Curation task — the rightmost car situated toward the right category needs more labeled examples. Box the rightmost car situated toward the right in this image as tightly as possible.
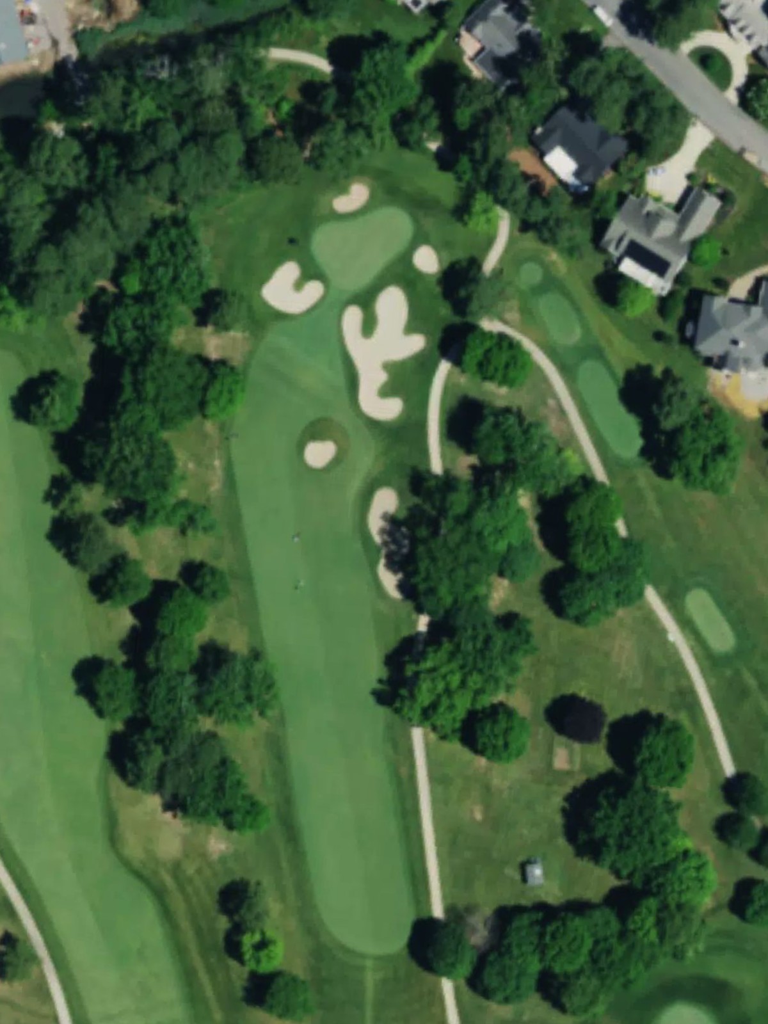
[742,149,760,165]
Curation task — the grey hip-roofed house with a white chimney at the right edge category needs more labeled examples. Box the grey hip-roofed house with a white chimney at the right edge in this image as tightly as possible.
[692,268,768,375]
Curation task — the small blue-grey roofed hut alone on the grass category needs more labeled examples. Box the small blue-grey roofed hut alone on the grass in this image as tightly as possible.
[525,856,543,887]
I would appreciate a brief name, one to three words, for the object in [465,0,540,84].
house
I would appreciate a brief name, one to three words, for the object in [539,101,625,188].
house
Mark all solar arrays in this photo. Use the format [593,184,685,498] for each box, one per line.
[625,240,672,277]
